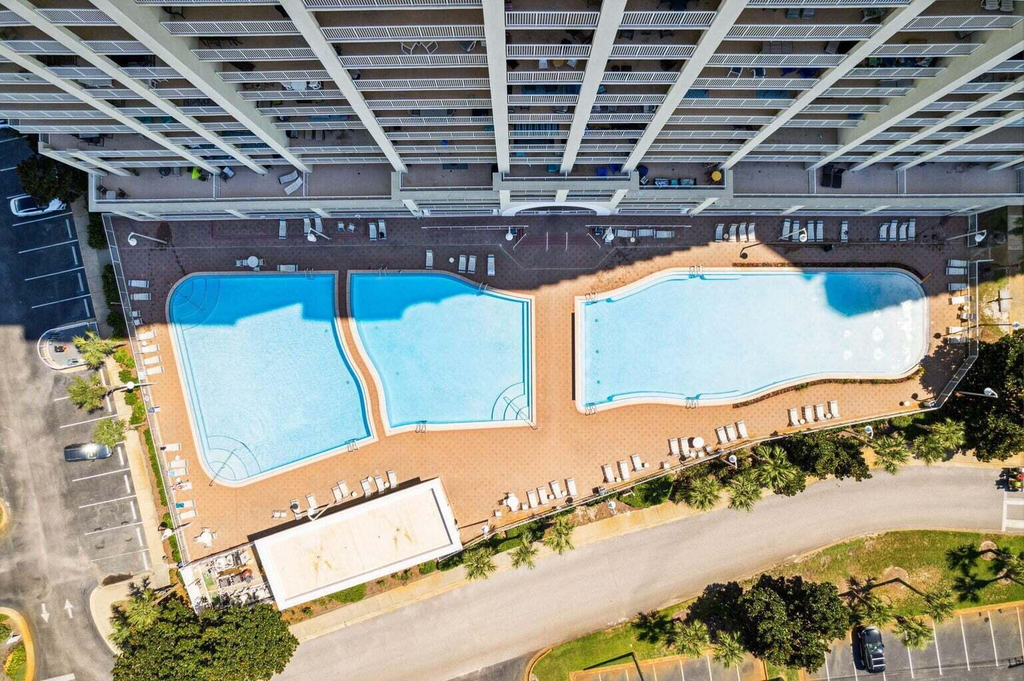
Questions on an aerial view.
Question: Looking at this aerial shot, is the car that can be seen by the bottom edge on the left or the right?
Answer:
right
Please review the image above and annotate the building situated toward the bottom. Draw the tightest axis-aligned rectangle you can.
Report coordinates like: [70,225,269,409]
[254,475,463,610]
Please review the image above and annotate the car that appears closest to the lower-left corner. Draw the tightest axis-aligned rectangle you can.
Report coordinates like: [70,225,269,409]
[64,440,120,464]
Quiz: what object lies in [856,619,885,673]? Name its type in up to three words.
car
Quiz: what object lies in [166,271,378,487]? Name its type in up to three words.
swimming pool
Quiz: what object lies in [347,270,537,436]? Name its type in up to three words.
swimming pool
